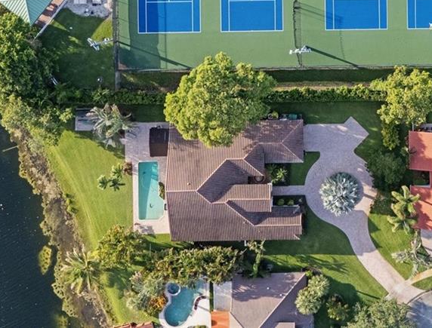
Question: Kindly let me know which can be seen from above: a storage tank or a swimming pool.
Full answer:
Visible in the photo is a swimming pool.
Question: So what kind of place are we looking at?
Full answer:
This image shows a residential area.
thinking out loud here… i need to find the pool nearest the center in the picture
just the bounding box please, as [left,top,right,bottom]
[137,160,165,221]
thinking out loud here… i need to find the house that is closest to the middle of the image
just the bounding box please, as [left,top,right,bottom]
[165,119,303,242]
